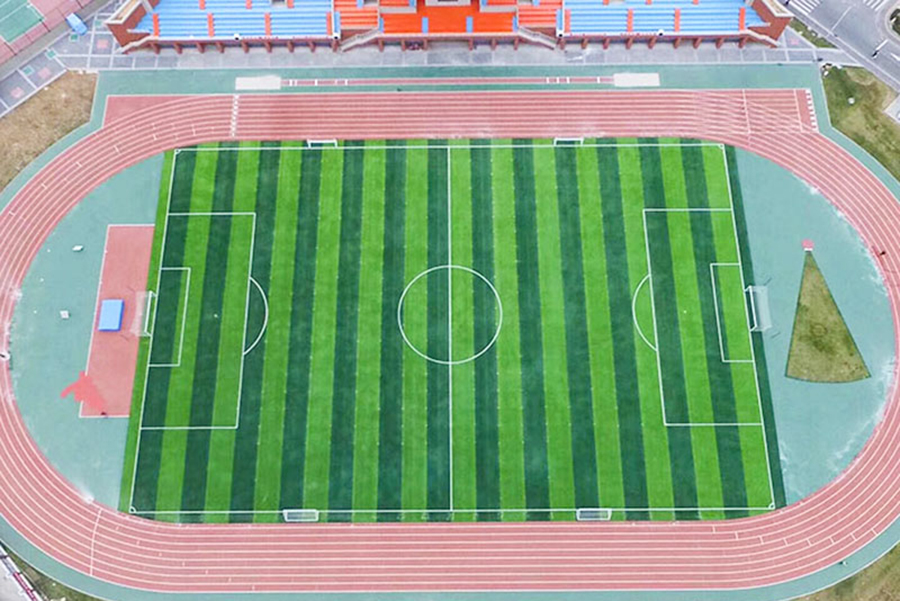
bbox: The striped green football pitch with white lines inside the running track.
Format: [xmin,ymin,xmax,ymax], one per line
[115,136,789,524]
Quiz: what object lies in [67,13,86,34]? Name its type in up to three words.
vehicle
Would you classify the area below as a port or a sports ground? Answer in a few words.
sports ground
